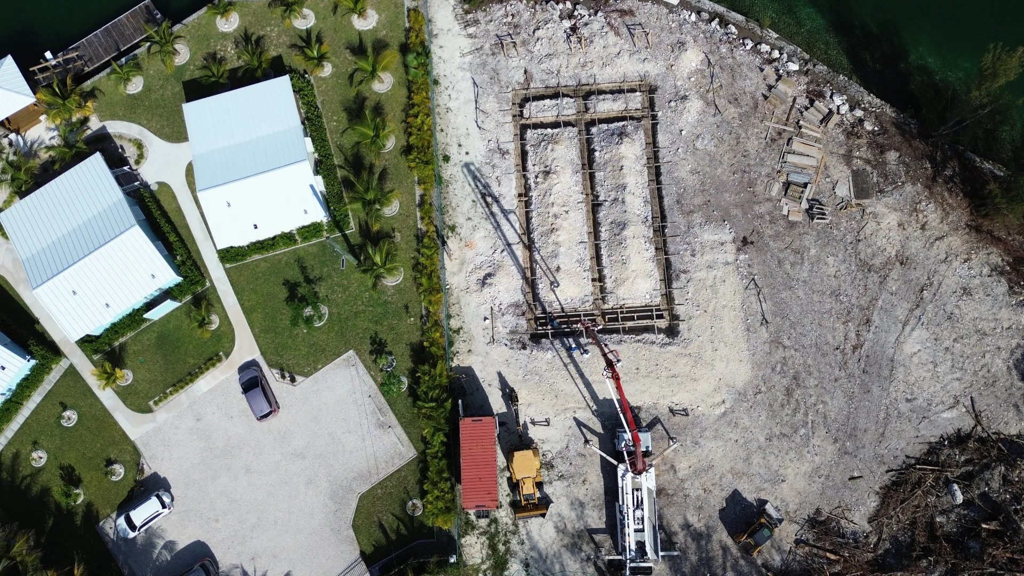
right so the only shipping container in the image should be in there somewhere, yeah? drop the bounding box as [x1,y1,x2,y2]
[458,397,501,513]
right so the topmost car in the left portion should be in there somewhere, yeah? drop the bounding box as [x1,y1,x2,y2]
[237,360,282,427]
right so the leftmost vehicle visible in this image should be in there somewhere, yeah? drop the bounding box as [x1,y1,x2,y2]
[112,487,179,540]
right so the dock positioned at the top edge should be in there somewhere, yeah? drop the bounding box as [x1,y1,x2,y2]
[21,0,167,91]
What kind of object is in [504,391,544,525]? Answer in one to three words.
work vehicle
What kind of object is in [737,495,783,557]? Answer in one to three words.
work vehicle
